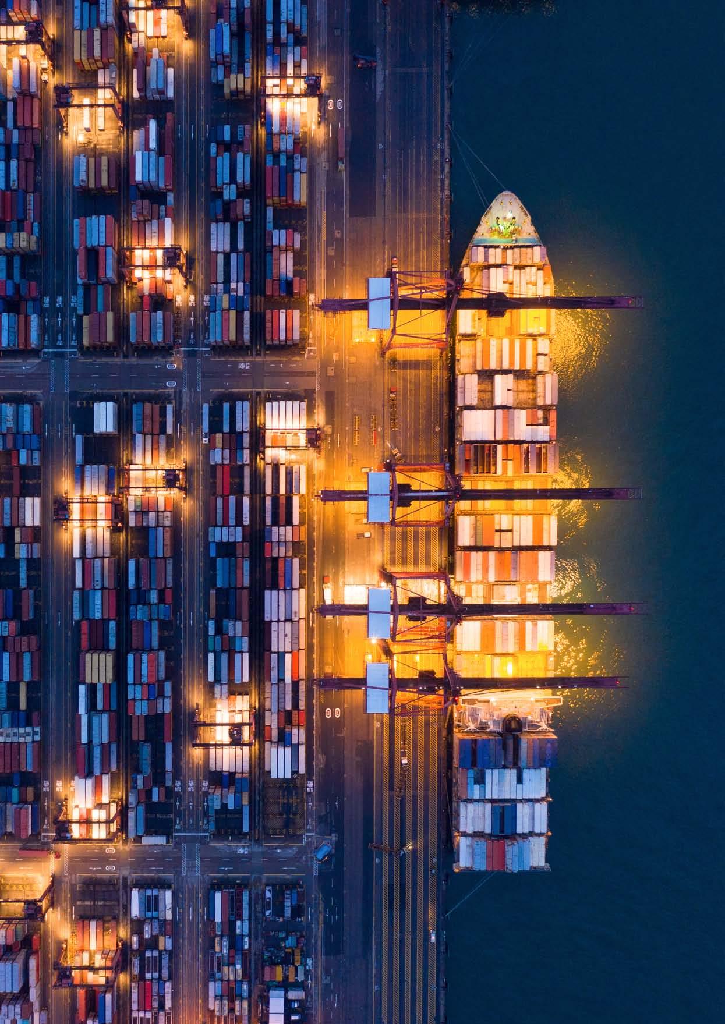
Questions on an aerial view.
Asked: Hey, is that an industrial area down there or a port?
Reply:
port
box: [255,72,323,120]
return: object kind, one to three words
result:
container crane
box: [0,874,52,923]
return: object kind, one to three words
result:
container crane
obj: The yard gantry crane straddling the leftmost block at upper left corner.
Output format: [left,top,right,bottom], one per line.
[0,19,52,70]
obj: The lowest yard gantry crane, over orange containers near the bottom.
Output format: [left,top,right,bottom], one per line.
[49,938,125,991]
